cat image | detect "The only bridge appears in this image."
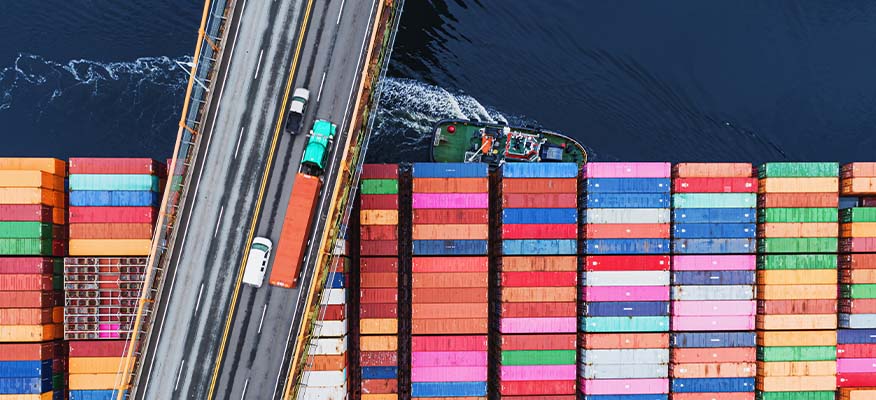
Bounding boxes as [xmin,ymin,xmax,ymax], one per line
[110,0,405,400]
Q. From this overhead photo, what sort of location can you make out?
port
